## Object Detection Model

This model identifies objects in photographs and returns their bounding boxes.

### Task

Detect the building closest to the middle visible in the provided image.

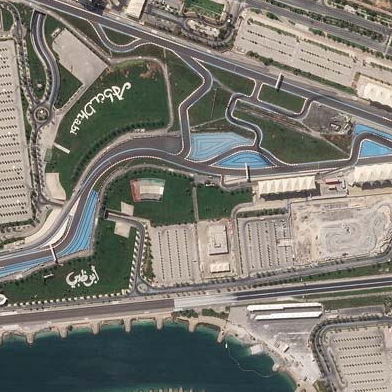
[208,224,228,255]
